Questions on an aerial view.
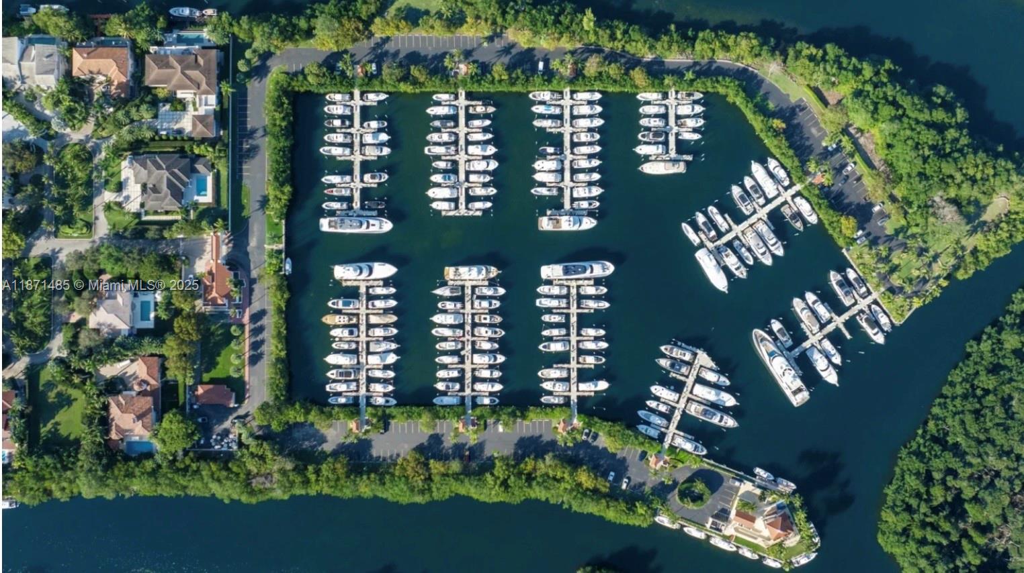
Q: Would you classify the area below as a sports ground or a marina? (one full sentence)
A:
What you see here is a marina.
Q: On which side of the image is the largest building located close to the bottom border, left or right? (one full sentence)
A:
It is on the right.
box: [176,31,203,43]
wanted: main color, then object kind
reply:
blue swimming pool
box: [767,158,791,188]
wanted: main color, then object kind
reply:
white boat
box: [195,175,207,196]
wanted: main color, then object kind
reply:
blue swimming pool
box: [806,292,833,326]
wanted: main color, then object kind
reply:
white boat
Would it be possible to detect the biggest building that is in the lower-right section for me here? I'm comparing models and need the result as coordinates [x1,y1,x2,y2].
[724,499,800,548]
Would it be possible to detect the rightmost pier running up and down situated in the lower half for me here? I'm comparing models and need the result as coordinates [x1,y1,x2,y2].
[651,340,711,454]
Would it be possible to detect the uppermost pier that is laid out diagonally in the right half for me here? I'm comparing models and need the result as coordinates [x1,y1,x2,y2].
[698,178,810,266]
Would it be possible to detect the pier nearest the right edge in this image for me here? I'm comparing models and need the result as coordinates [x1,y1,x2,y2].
[774,288,884,376]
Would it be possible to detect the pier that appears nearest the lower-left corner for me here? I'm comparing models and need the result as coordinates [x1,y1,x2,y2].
[342,280,383,429]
